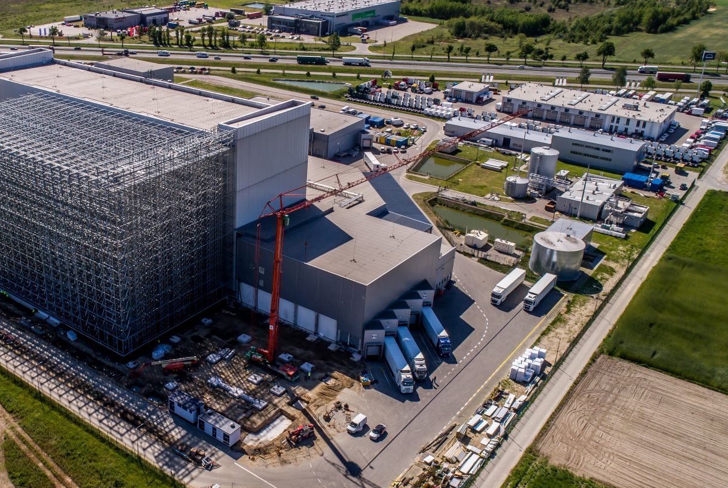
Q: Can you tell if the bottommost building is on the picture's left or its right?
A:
left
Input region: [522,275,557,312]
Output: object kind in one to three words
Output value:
truck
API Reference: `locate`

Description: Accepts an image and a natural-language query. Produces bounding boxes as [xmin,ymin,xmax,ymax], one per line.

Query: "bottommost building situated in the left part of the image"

[198,408,242,447]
